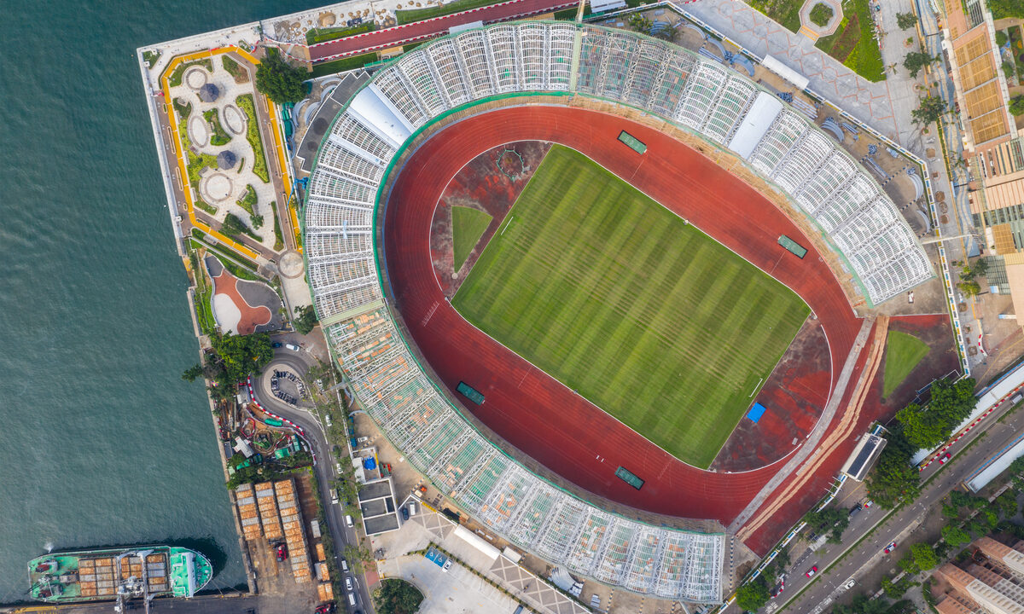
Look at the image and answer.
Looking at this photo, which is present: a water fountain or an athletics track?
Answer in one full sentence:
The image shows an athletics track.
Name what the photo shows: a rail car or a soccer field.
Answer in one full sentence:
The image shows a soccer field.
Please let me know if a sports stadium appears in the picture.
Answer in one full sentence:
Yes, the frame does contain a sports stadium.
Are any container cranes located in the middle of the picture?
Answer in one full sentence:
No, in the middle of the picture there is no container crane.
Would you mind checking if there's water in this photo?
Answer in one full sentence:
Yes, water can be seen from above here.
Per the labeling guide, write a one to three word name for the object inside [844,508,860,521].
vehicle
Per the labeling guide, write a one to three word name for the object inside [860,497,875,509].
vehicle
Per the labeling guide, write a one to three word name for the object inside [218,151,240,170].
gazebo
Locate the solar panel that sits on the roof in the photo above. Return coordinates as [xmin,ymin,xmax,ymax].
[848,438,881,477]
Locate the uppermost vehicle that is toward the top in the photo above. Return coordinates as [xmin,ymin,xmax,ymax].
[347,15,372,29]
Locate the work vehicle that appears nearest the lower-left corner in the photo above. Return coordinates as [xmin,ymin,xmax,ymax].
[269,541,288,562]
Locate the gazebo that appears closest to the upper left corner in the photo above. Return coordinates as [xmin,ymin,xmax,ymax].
[201,84,222,105]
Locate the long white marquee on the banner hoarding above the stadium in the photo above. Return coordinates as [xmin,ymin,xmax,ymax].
[759,55,809,92]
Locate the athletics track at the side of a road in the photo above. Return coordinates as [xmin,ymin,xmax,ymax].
[383,106,948,543]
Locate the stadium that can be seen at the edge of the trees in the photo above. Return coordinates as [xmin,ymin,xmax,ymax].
[302,20,934,603]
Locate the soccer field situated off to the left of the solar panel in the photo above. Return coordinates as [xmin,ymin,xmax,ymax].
[453,144,810,467]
